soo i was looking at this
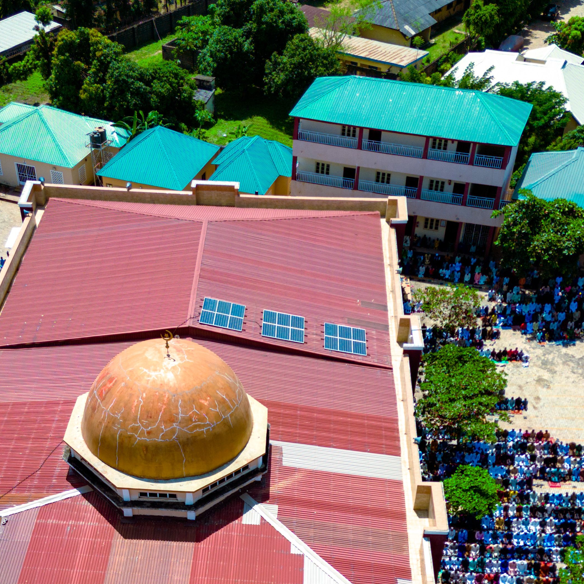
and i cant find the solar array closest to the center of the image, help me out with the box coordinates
[258,309,309,343]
